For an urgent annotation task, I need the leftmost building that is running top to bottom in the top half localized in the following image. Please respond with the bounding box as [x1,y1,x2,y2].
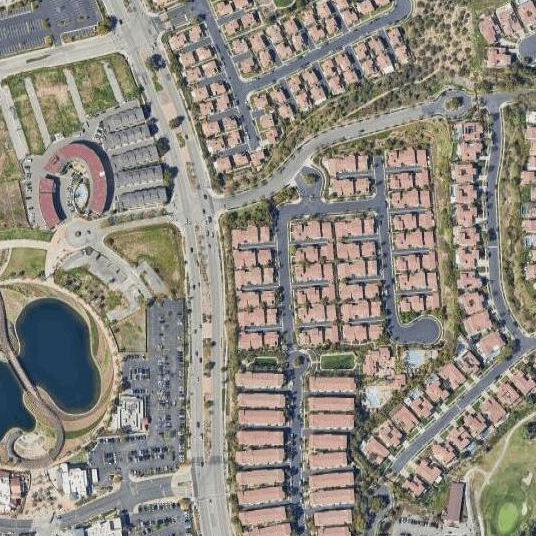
[38,175,60,229]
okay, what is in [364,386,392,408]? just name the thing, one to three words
swimming pool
